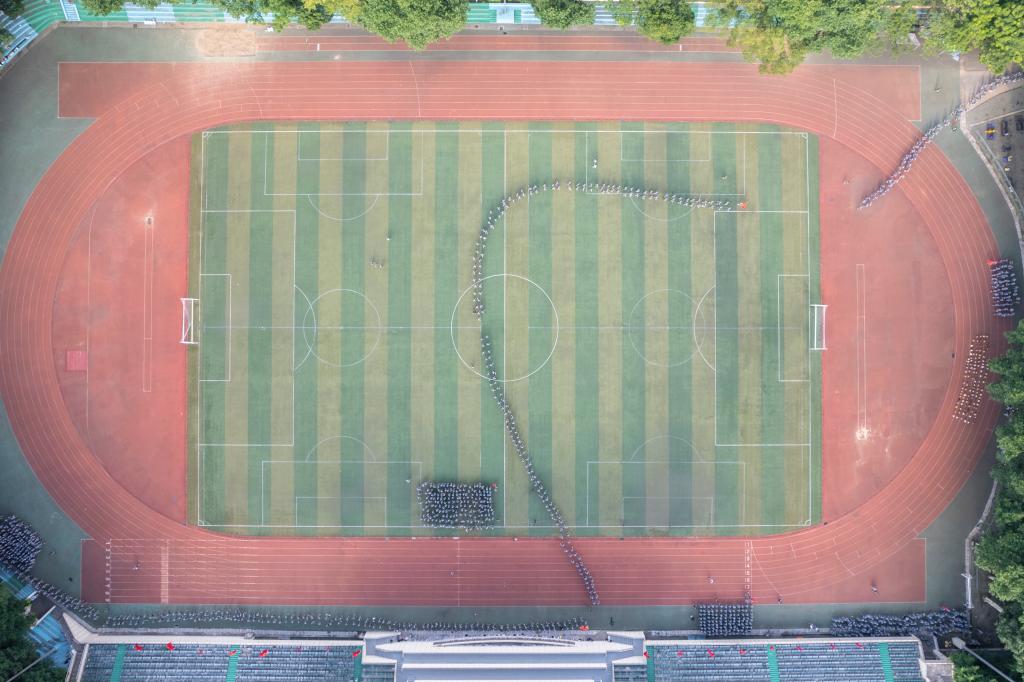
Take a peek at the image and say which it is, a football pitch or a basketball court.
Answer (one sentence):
Visible in the photo is a football pitch.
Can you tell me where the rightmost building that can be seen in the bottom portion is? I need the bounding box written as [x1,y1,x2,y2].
[924,654,955,682]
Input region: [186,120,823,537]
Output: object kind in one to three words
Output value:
soccer field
